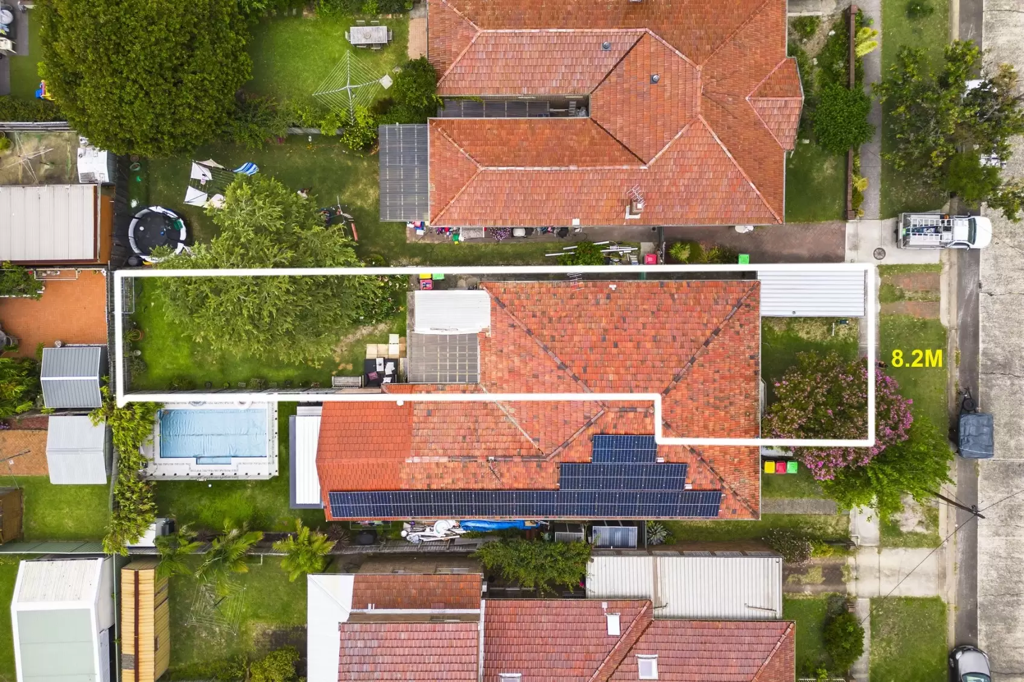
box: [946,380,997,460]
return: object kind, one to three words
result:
trailer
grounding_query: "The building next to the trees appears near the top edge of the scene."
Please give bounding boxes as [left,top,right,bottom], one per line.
[427,0,806,226]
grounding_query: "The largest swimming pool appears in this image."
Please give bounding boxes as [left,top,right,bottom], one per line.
[153,400,274,472]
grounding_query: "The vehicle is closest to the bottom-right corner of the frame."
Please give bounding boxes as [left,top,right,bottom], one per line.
[940,645,993,682]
